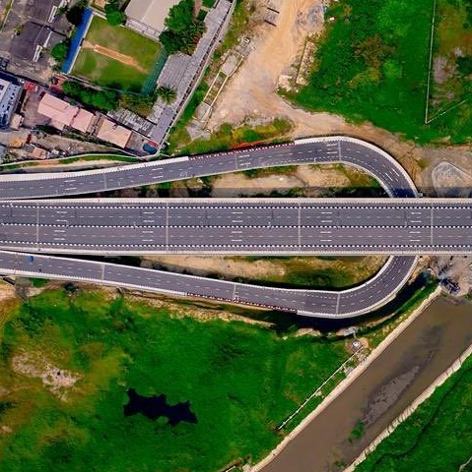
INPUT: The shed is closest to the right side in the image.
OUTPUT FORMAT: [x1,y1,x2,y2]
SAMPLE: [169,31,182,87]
[193,0,234,53]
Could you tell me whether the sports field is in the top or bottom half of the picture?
top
